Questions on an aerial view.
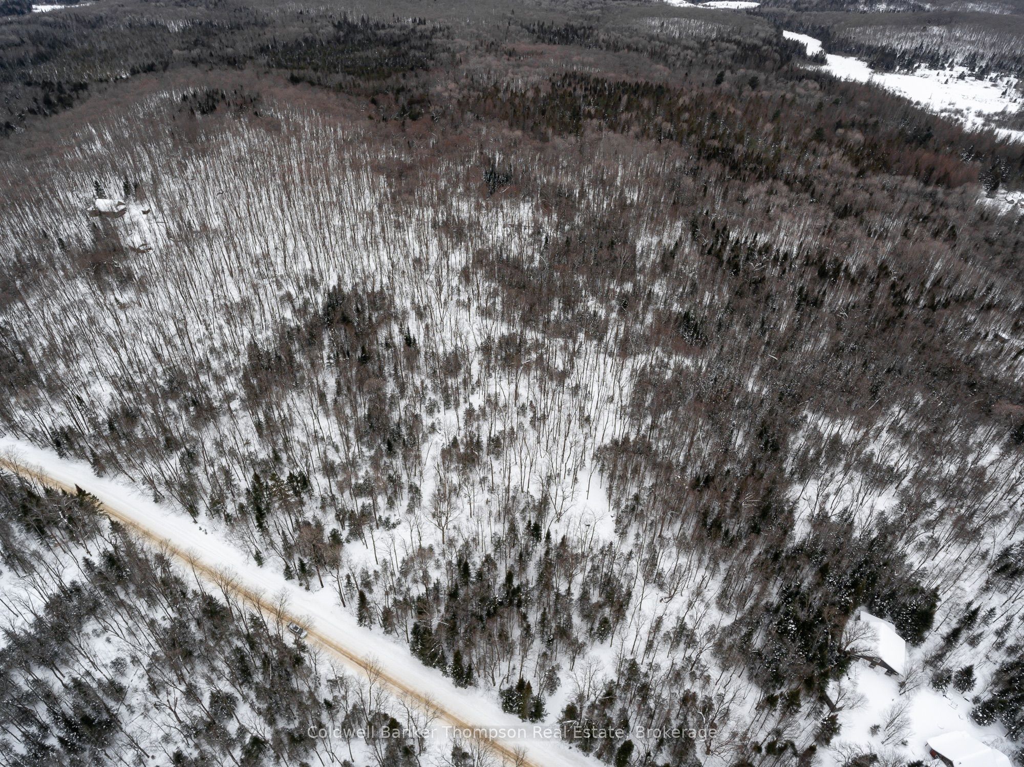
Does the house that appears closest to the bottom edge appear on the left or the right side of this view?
right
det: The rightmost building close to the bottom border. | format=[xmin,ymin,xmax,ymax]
[929,730,1019,767]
